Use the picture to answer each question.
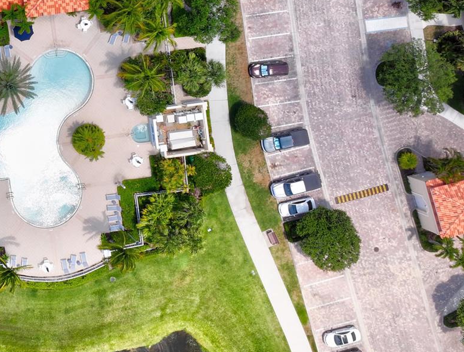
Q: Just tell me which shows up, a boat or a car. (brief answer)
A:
car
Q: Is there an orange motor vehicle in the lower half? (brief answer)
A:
No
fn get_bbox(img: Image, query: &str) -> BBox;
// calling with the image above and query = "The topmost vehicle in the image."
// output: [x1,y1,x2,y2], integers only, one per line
[248,60,289,79]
